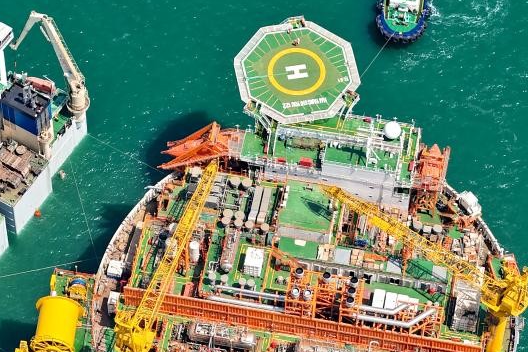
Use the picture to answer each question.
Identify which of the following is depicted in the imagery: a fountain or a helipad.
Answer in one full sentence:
Of the two, only a helipad appears.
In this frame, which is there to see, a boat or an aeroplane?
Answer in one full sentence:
The one in the frame is a boat.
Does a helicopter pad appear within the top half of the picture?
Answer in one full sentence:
Yes, within the top half of the picture there is a helicopter pad.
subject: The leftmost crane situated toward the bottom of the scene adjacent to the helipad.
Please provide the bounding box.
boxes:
[107,158,215,352]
